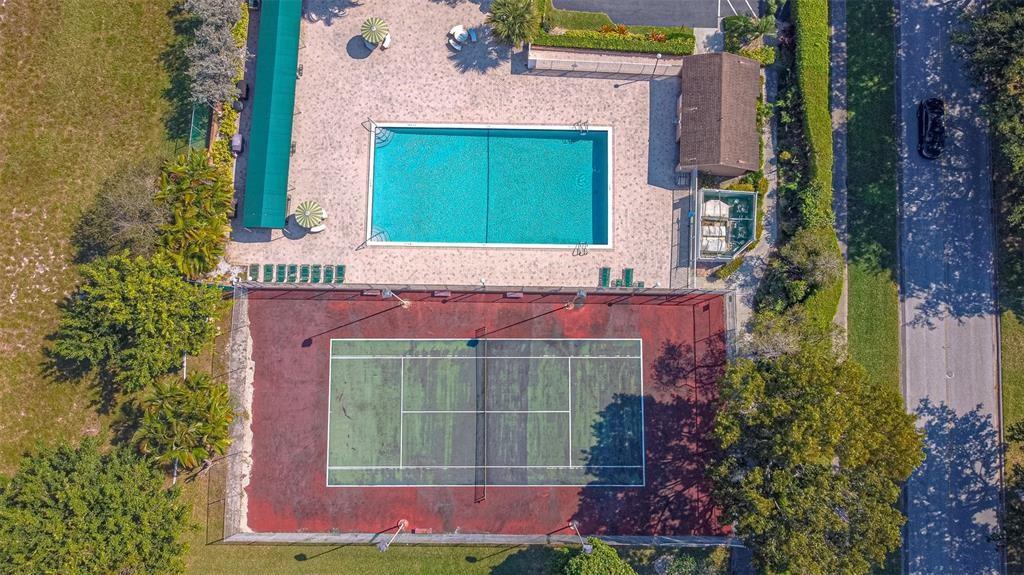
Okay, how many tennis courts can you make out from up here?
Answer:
1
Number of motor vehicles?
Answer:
one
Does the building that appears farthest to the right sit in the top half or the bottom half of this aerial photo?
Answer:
top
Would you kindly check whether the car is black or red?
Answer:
black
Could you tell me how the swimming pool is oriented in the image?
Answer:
from left to right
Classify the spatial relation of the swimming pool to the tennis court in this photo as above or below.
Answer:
above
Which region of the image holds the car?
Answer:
top right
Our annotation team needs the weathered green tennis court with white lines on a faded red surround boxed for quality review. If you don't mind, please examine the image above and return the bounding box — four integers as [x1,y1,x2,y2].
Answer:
[222,289,742,539]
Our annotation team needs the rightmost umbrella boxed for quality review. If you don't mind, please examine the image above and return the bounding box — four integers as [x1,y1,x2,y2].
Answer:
[361,18,388,45]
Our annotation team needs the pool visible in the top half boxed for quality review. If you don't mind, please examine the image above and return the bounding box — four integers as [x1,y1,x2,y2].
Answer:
[366,123,613,249]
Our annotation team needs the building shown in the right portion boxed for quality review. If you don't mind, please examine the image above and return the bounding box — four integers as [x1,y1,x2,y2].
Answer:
[674,53,760,173]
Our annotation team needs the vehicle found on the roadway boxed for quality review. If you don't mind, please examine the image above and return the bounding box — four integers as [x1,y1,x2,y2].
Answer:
[917,98,949,158]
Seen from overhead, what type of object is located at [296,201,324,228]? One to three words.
umbrella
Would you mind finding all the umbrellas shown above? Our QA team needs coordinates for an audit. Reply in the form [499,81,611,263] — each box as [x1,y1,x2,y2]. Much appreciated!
[296,201,324,228]
[361,18,388,45]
